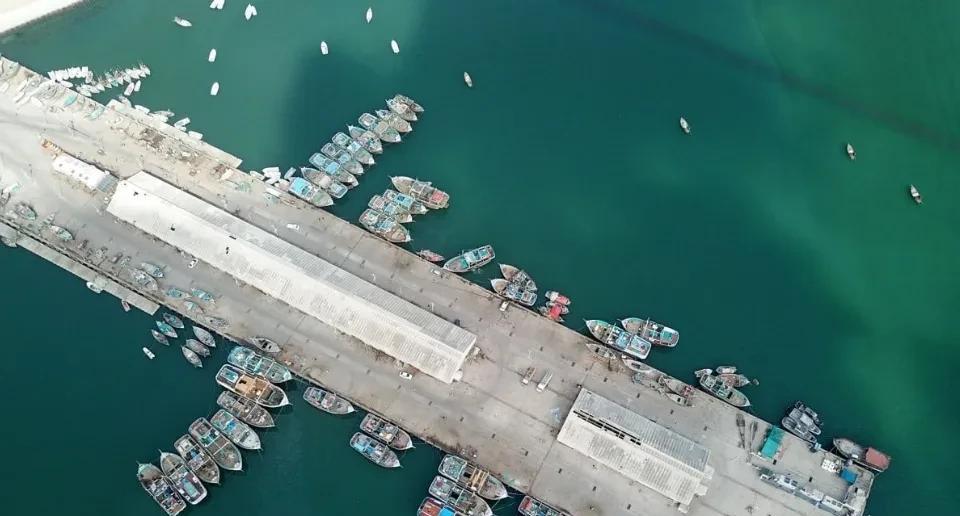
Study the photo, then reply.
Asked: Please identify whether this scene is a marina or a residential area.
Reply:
marina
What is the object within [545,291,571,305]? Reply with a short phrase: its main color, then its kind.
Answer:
white boat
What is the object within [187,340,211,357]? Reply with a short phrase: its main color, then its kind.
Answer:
gray boat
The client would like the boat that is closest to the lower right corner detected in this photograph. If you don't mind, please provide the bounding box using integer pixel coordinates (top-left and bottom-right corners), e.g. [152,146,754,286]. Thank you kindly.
[832,435,894,473]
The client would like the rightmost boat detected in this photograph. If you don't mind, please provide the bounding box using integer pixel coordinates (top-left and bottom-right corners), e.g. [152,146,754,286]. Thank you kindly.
[910,184,924,205]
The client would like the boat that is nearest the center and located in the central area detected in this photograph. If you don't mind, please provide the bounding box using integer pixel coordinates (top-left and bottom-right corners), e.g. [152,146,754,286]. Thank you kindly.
[441,243,495,270]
